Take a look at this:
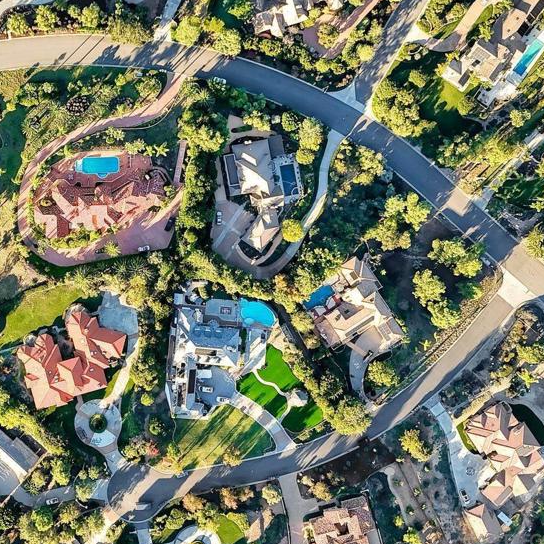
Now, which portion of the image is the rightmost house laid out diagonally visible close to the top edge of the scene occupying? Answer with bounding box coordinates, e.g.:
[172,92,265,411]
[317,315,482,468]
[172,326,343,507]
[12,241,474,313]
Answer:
[441,0,543,90]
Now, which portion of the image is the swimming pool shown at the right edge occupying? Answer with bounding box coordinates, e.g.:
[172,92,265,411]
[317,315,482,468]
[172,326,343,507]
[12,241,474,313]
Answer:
[512,37,544,78]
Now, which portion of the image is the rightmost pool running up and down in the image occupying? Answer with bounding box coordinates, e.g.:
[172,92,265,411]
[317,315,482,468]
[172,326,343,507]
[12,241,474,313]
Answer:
[279,162,300,197]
